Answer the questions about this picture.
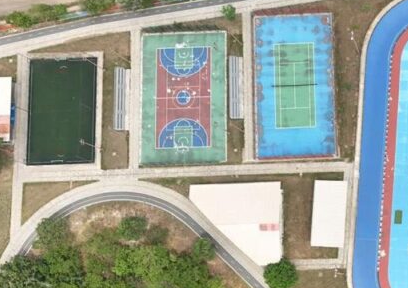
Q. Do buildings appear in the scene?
Yes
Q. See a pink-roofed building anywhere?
No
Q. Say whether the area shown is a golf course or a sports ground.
sports ground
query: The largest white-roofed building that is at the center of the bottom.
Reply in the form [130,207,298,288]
[190,182,284,265]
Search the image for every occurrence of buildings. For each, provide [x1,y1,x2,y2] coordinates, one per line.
[190,182,284,265]
[0,77,21,143]
[311,180,348,247]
